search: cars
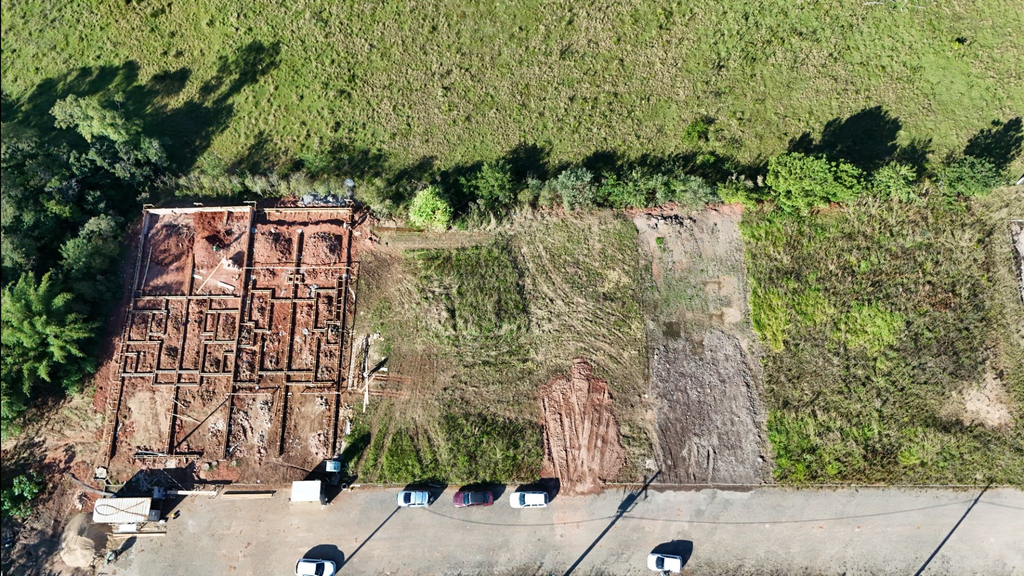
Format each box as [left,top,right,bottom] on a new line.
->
[454,490,494,507]
[396,490,433,507]
[509,491,548,508]
[647,554,683,576]
[295,558,338,576]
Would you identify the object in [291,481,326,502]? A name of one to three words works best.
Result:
shed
